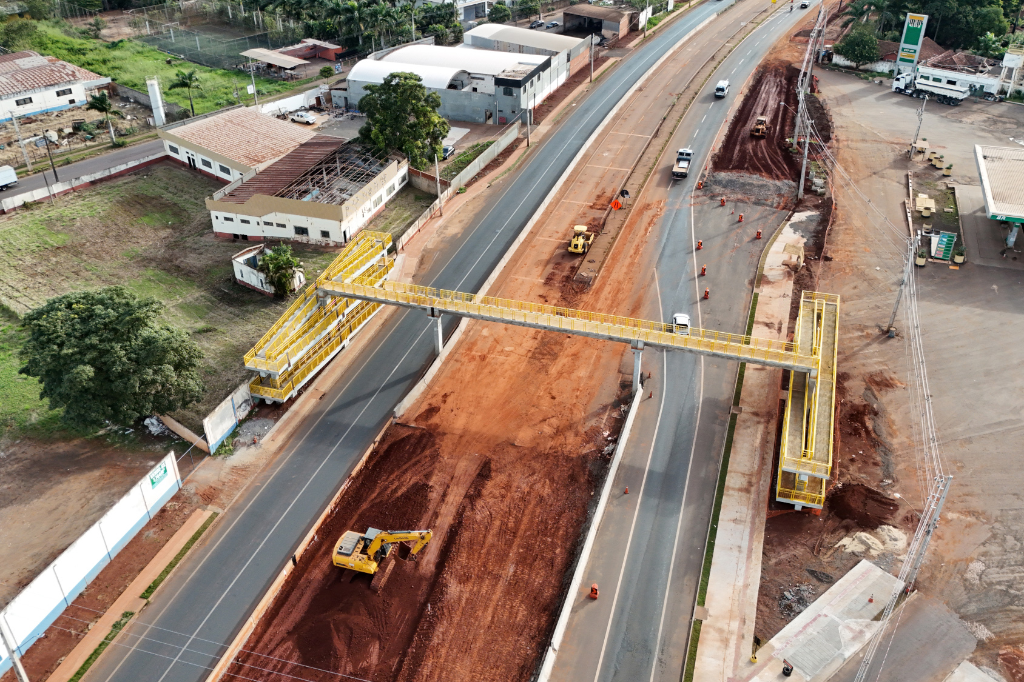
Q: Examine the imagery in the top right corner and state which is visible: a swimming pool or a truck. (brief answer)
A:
truck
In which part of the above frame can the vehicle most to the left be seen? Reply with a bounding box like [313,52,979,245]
[0,161,21,185]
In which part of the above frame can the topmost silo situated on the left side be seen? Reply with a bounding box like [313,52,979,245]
[142,76,165,128]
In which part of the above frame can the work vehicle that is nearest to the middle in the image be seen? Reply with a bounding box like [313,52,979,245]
[567,224,596,255]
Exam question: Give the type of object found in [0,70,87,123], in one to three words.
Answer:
building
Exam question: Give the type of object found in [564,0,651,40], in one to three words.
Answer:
shed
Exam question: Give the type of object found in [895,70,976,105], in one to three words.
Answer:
truck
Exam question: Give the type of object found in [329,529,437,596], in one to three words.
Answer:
work vehicle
